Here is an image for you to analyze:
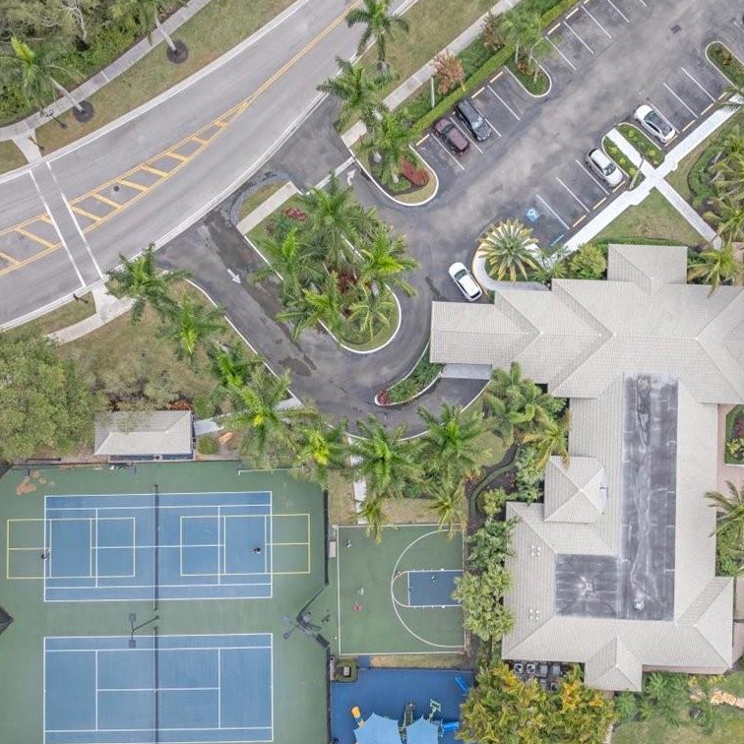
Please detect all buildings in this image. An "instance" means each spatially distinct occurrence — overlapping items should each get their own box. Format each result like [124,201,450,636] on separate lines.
[95,411,194,461]
[431,245,744,690]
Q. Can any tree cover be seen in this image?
Yes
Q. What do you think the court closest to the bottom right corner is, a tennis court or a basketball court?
basketball court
